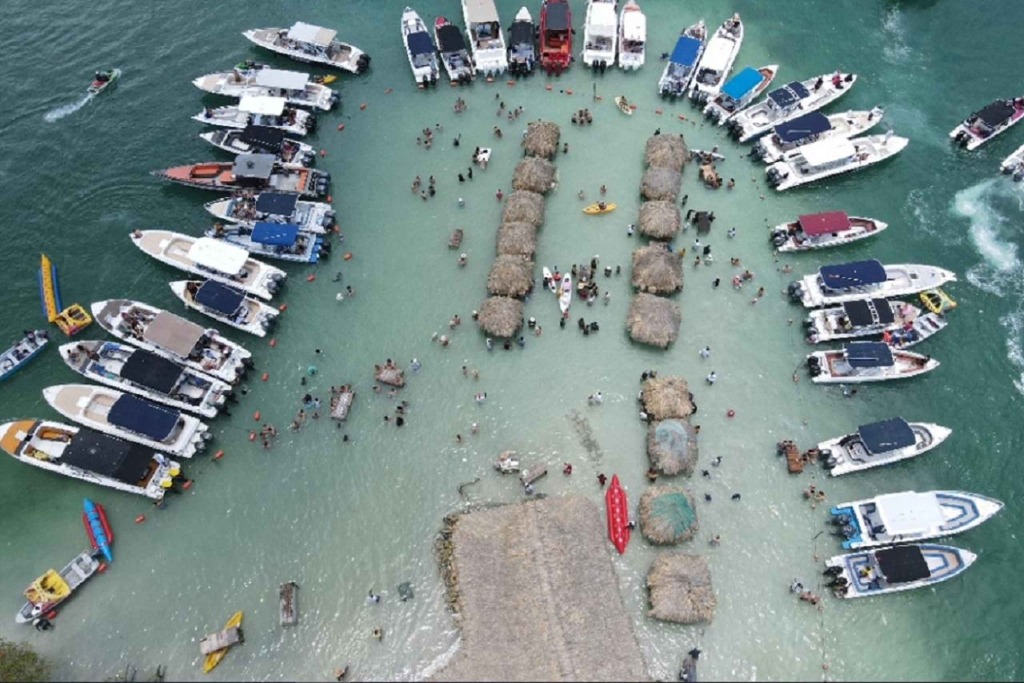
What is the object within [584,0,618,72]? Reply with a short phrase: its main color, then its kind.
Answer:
white boat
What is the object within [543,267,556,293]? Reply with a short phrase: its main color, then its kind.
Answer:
white boat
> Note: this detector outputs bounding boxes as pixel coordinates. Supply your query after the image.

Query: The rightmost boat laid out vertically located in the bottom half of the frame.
[605,474,630,552]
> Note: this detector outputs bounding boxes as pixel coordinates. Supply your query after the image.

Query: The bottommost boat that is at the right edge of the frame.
[817,542,977,606]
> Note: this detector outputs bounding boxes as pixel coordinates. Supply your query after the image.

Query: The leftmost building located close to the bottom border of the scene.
[453,493,653,683]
